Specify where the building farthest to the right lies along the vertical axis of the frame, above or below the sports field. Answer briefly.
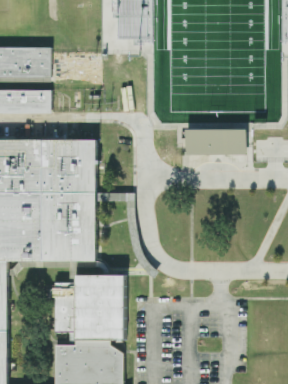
below it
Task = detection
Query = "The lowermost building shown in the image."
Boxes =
[57,340,125,384]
